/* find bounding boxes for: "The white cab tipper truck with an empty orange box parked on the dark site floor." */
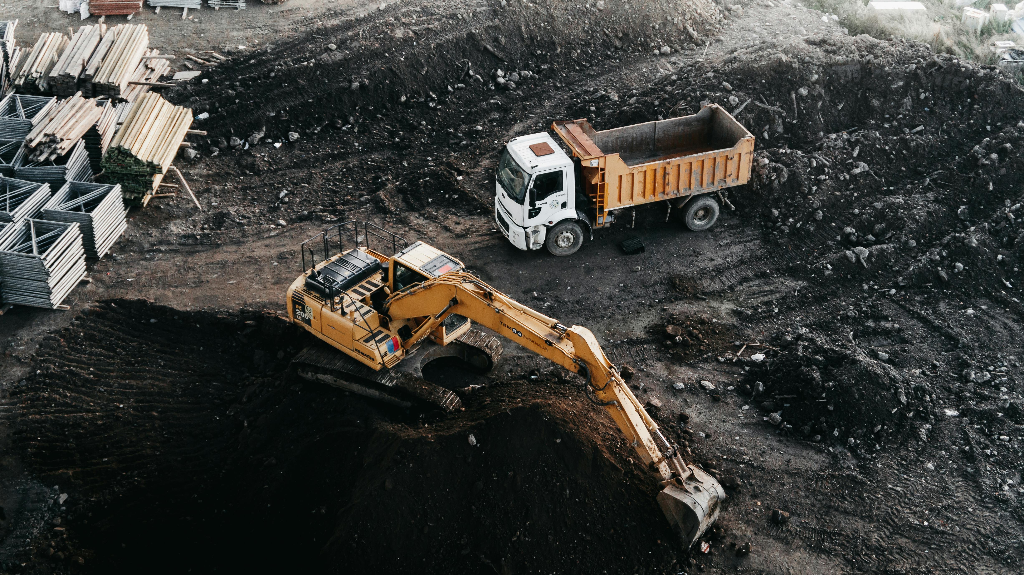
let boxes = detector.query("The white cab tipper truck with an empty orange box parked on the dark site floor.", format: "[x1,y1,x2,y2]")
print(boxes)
[494,103,755,256]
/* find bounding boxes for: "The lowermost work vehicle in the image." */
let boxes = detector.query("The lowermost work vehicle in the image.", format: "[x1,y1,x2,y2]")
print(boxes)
[279,216,728,558]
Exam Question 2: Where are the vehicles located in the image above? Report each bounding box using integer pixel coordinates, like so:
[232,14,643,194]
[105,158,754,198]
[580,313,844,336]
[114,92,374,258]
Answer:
[494,103,755,256]
[279,216,728,558]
